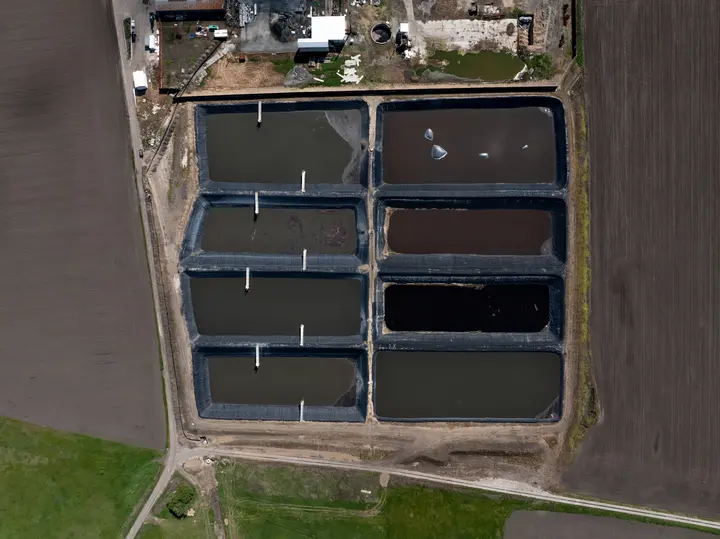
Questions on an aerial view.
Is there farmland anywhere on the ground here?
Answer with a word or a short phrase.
Yes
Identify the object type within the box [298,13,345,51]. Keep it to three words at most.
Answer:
building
